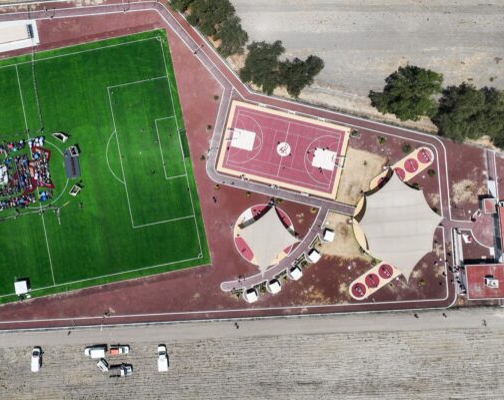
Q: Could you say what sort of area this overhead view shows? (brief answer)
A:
sports ground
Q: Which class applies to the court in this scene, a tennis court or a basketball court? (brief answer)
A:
basketball court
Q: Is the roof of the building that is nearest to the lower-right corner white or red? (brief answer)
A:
red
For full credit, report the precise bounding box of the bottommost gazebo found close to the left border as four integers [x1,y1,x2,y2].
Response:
[14,278,28,295]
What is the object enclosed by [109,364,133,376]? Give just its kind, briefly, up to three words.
vehicle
